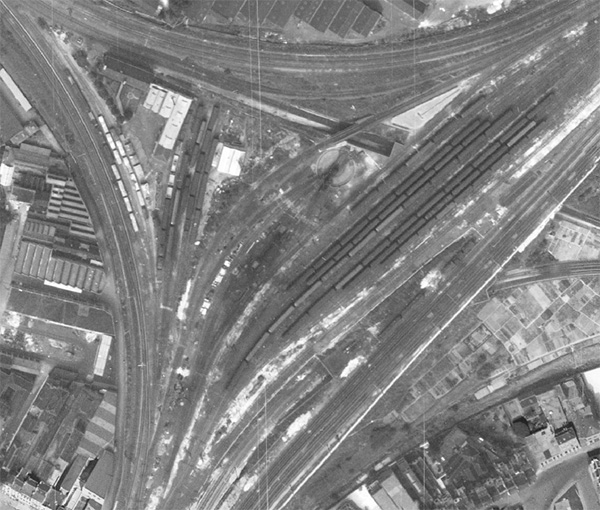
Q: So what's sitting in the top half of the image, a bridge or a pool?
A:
bridge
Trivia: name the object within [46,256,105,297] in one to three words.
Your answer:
building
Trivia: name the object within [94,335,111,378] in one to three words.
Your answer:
building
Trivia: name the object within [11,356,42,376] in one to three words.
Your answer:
shed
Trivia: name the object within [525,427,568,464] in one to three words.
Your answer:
house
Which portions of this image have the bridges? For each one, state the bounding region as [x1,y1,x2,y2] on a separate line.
[306,101,398,158]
